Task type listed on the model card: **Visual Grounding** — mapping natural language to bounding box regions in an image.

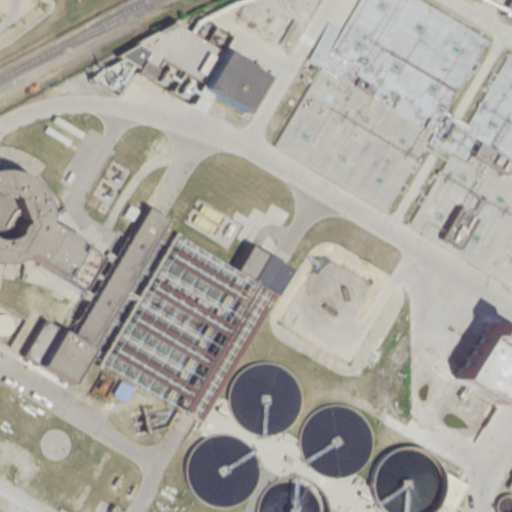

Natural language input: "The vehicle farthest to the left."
[2,377,18,391]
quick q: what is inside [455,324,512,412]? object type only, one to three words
building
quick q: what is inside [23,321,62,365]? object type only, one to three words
shed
